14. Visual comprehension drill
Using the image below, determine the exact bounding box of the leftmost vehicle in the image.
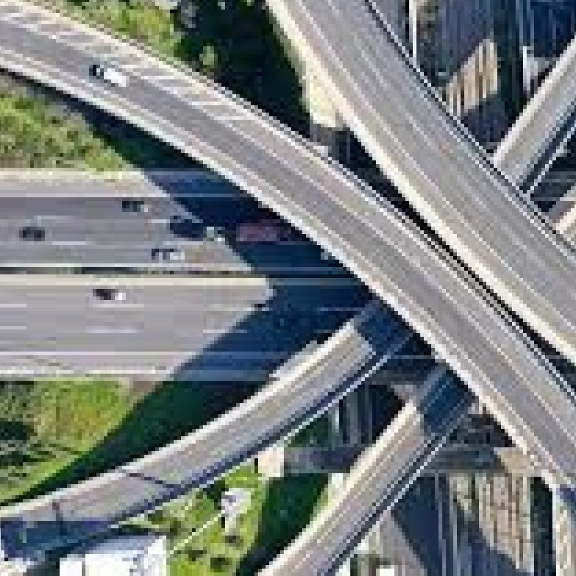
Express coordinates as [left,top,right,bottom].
[19,224,49,241]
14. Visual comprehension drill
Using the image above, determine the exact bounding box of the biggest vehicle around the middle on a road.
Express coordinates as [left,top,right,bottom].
[210,222,300,245]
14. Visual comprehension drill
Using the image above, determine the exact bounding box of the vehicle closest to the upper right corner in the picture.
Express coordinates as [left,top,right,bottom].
[304,245,335,261]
